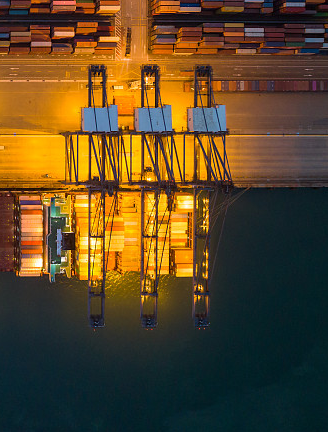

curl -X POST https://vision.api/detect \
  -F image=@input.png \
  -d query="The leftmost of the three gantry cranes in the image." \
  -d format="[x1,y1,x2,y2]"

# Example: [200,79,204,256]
[54,66,124,330]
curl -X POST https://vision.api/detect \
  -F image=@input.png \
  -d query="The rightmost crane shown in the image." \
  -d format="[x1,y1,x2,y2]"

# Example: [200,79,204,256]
[158,66,237,330]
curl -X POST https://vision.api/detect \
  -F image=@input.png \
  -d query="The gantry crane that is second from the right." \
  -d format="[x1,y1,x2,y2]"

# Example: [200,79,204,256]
[105,66,179,330]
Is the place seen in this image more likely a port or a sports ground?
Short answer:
port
